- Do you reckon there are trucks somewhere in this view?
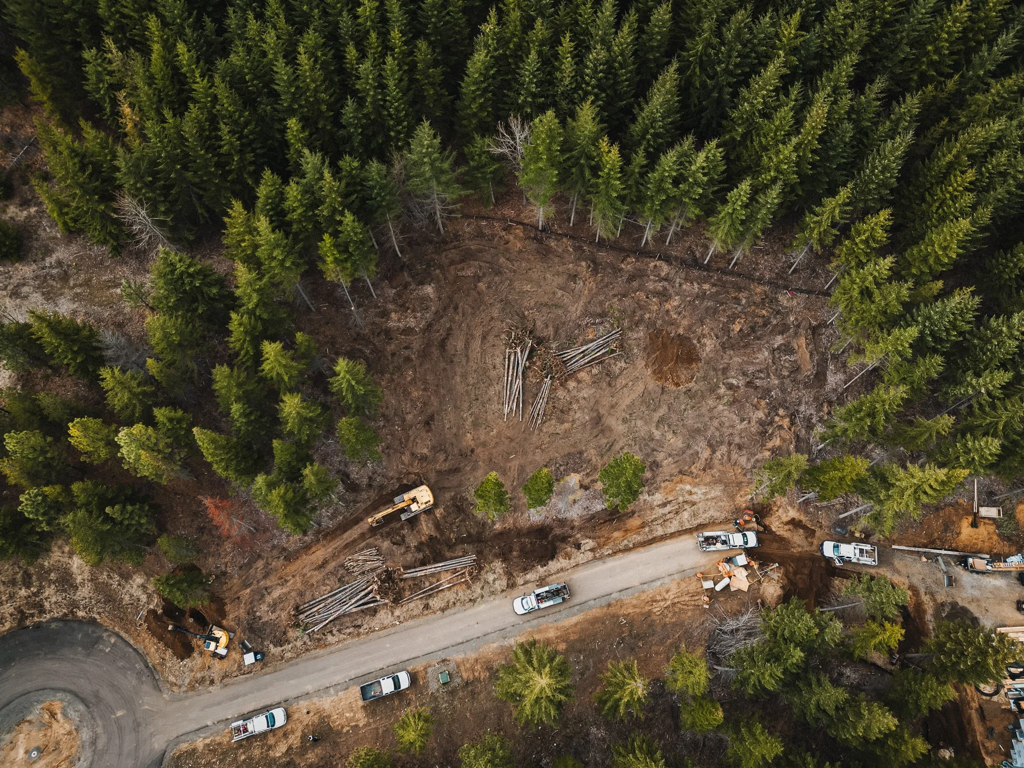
Yes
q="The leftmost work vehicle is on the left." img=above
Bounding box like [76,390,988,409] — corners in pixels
[177,619,242,658]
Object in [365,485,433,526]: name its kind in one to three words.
work vehicle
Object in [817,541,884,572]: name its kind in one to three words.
truck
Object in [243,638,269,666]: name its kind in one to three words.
work vehicle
